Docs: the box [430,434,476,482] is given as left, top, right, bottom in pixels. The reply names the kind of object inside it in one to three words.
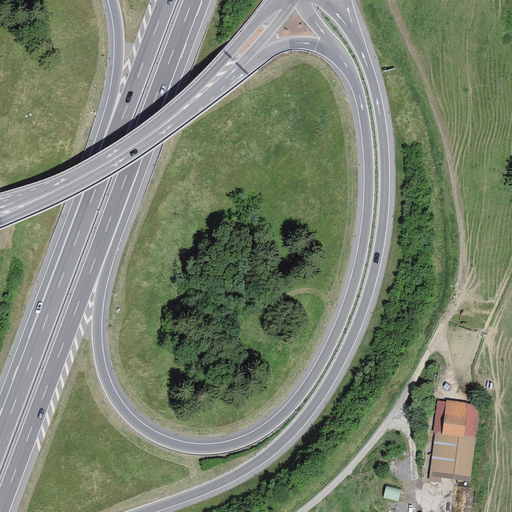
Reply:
shed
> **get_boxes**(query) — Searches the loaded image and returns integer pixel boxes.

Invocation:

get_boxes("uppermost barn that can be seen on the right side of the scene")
[434,400,478,437]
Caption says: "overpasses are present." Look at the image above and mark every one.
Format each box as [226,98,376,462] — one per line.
[0,51,249,228]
